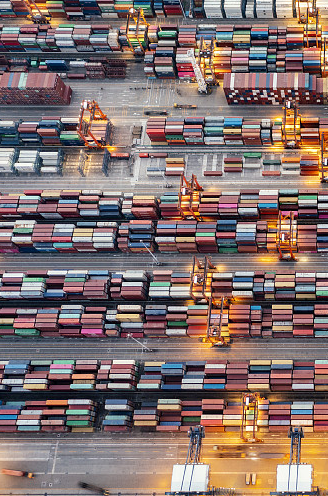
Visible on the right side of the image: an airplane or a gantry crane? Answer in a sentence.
The one visible on the right side of the image is a gantry crane.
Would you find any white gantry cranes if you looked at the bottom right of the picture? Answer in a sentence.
Yes, looking at the bottom right of the picture, one can make out a white gantry crane.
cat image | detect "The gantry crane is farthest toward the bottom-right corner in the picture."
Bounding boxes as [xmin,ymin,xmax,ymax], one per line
[269,430,328,496]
